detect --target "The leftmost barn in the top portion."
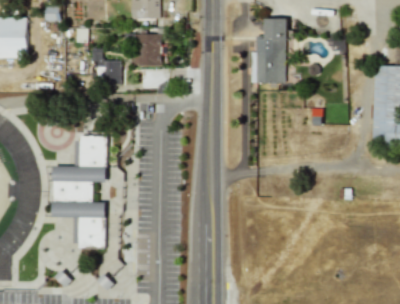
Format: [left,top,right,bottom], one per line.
[0,16,27,58]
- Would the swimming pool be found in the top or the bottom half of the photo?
top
